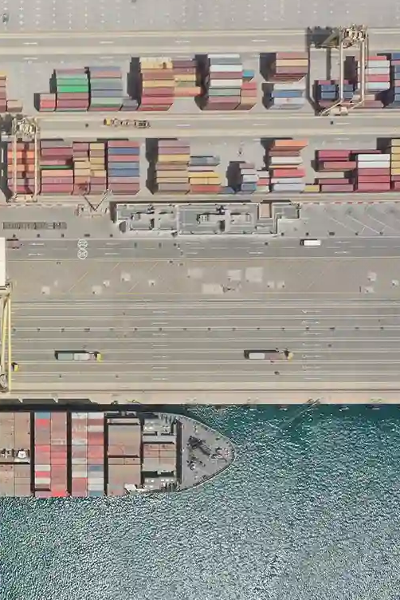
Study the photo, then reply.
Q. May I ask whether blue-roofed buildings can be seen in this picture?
No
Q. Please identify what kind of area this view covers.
port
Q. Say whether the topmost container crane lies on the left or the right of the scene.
right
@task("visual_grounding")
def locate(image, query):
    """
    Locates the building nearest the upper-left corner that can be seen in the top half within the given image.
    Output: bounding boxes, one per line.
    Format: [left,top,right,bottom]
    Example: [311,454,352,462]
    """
[116,204,177,235]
